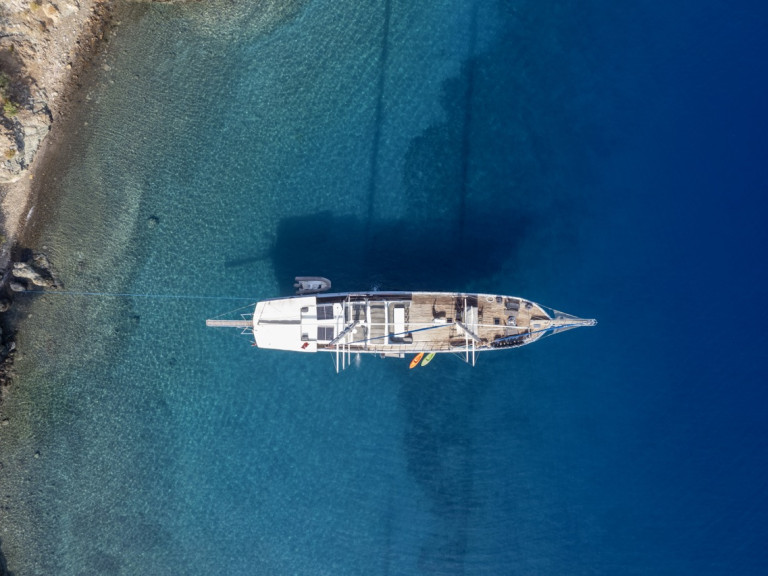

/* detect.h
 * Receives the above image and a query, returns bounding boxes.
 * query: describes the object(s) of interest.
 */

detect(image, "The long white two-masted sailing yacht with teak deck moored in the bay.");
[206,291,597,374]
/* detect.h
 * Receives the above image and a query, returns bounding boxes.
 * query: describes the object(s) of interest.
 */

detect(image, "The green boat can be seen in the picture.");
[421,352,437,366]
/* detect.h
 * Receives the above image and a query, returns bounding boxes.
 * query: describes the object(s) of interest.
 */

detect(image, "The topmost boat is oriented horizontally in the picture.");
[292,277,344,293]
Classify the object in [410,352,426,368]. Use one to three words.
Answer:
boat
